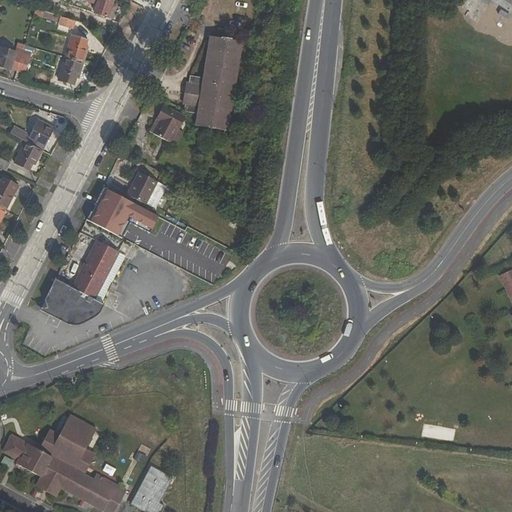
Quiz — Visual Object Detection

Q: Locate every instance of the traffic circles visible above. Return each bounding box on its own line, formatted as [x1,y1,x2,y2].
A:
[233,247,365,379]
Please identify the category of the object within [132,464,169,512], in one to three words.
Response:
barn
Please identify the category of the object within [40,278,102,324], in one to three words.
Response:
building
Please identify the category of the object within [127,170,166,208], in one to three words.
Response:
house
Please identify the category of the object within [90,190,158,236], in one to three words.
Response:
building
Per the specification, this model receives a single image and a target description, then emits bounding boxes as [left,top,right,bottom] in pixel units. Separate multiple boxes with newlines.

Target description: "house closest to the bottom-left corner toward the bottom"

[0,418,126,512]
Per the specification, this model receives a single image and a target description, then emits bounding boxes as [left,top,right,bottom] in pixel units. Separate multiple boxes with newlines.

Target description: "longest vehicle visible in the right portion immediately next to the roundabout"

[317,200,333,246]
